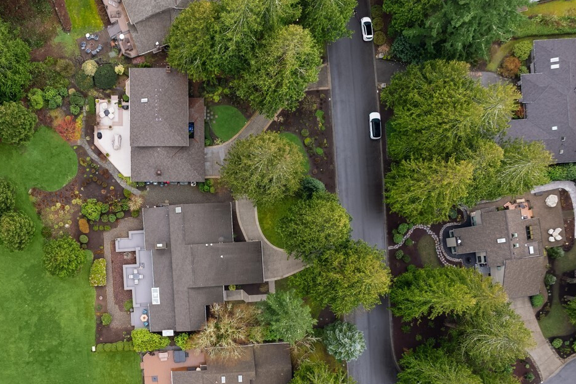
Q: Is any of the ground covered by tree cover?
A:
Yes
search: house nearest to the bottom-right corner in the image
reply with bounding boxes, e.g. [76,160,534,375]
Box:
[445,206,549,297]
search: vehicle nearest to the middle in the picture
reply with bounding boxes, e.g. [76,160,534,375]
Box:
[368,112,382,141]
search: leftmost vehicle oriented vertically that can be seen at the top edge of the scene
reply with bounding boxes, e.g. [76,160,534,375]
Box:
[359,15,373,43]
